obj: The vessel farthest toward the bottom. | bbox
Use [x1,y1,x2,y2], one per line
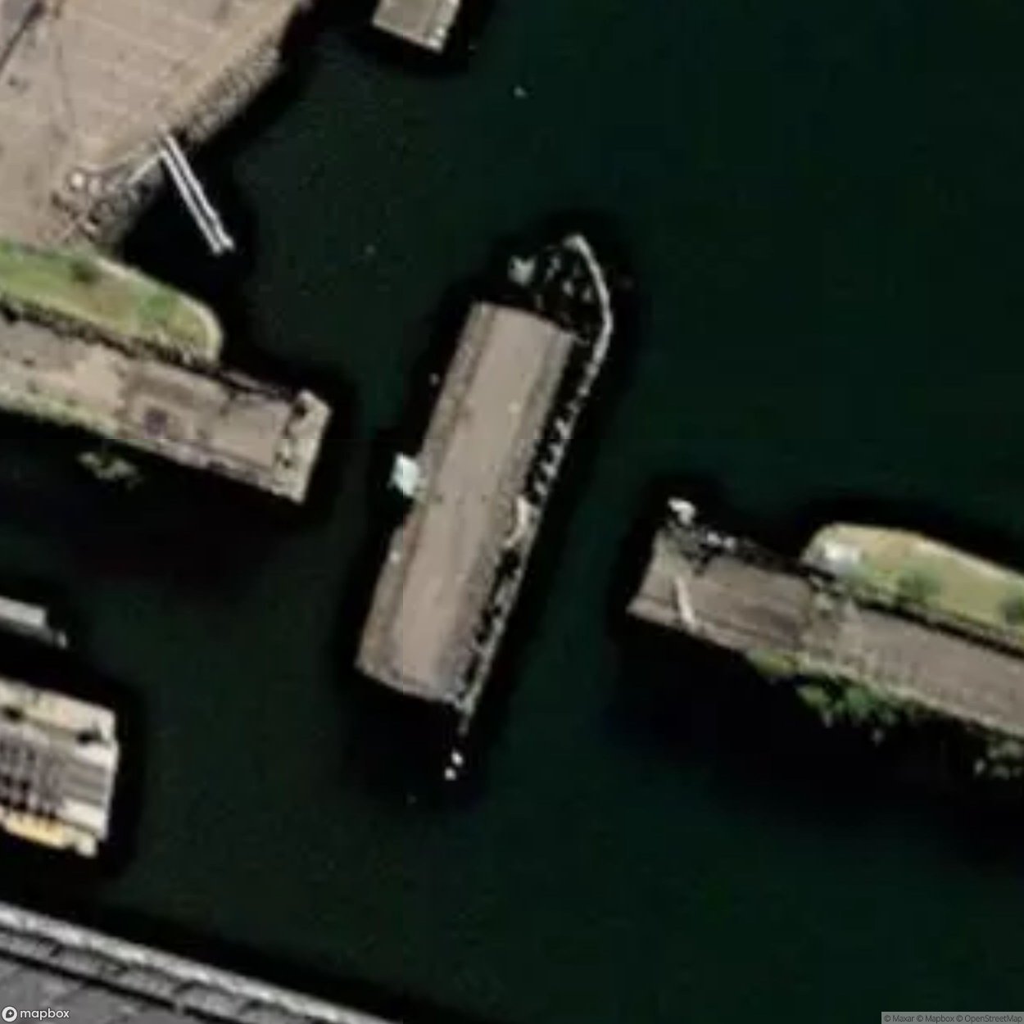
[0,679,122,852]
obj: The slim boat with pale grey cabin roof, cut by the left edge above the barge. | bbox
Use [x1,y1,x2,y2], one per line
[0,594,61,649]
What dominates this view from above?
water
